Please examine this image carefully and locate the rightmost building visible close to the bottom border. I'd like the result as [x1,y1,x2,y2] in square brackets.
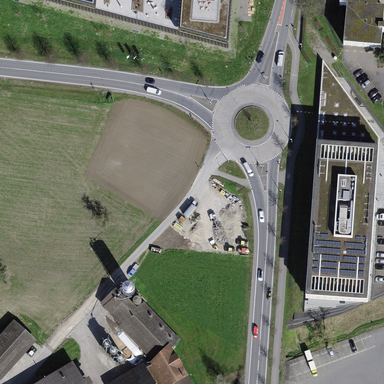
[146,345,197,384]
